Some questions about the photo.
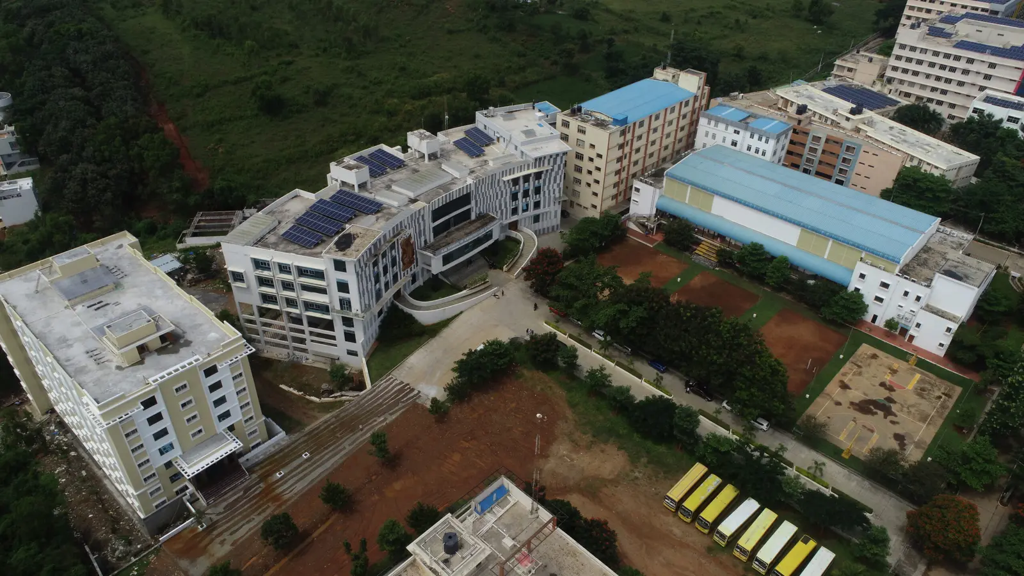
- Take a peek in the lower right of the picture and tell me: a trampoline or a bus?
bus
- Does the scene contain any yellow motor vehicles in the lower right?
Yes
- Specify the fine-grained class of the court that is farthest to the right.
basketball court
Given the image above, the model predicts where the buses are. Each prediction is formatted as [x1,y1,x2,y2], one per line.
[664,465,708,515]
[774,535,817,576]
[733,508,778,564]
[694,485,741,536]
[713,497,758,551]
[677,475,722,526]
[750,522,797,576]
[805,548,838,576]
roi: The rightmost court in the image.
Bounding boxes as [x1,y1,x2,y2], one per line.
[796,344,962,481]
